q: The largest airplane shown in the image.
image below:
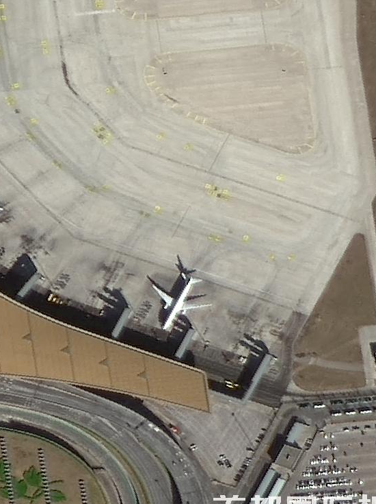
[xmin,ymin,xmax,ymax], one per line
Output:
[154,268,215,328]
